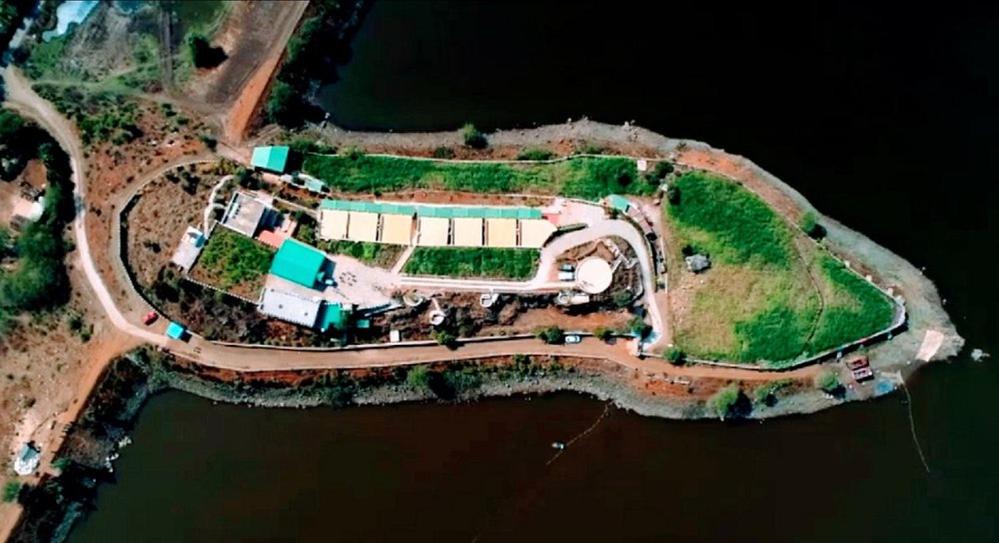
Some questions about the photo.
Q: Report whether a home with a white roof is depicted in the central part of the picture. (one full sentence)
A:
Yes, a home with a white roof can be seen in the central part of the picture.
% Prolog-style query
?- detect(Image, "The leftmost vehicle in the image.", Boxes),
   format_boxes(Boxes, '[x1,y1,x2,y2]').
[141,311,157,325]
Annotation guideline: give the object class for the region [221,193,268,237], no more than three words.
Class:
building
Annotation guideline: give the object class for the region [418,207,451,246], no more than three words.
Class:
house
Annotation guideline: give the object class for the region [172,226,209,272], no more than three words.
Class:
shed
